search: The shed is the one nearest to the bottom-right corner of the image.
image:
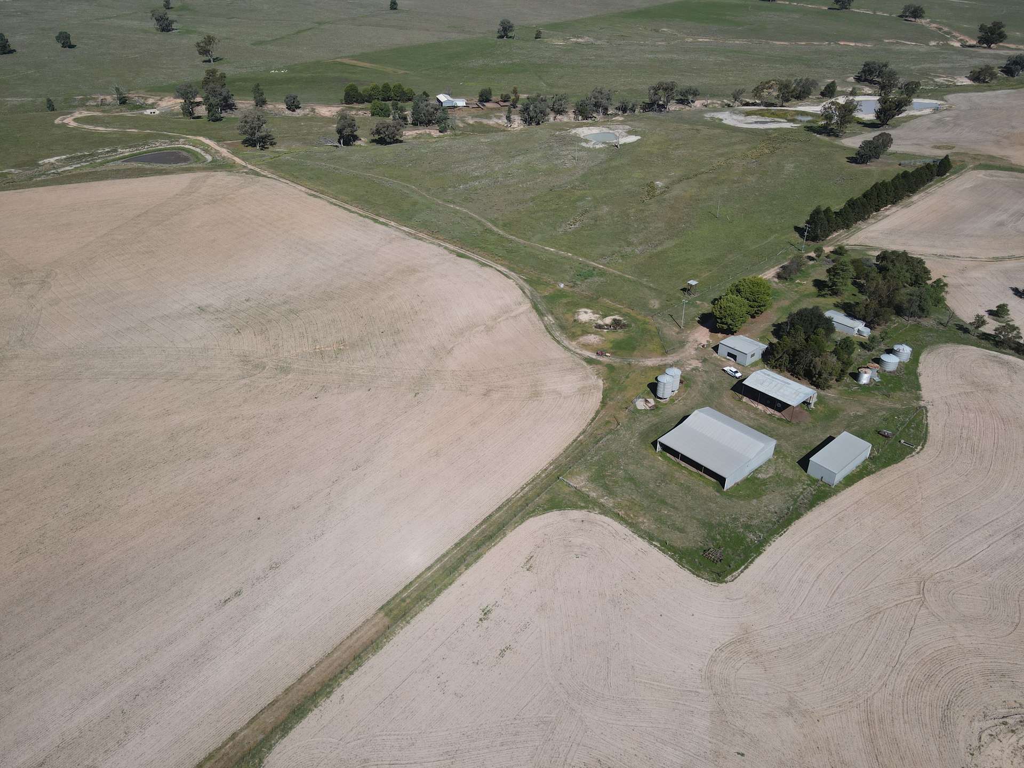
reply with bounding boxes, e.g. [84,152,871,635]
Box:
[806,429,874,487]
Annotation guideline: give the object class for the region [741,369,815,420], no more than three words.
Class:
shed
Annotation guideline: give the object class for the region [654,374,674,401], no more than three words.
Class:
silo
